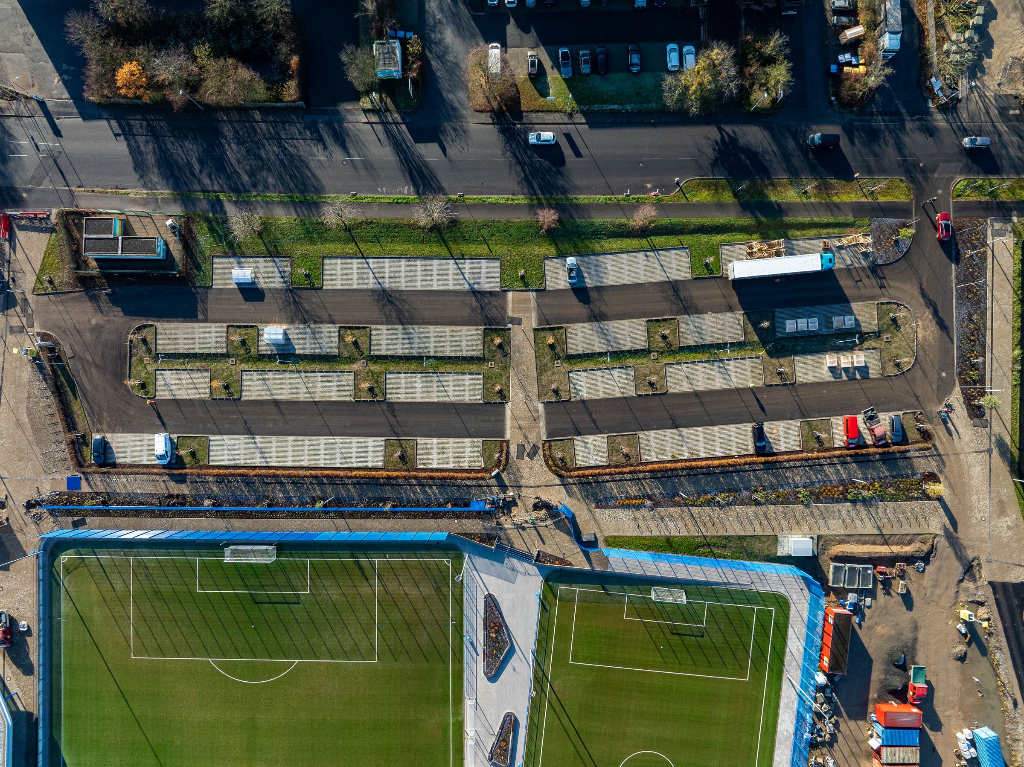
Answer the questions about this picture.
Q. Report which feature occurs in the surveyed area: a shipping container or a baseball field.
shipping container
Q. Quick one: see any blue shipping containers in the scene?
Yes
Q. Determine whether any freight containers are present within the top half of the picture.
No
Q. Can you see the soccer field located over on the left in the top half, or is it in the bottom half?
bottom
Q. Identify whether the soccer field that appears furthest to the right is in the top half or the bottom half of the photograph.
bottom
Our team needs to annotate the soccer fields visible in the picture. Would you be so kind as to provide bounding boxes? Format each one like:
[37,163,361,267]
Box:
[50,541,464,767]
[523,578,789,767]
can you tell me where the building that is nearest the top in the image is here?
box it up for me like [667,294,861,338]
[373,39,402,81]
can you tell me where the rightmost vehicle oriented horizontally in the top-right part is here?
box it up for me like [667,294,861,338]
[961,135,992,149]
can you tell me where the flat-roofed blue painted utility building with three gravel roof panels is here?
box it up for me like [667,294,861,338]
[83,218,166,259]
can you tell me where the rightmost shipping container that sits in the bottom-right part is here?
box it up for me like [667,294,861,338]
[973,726,1007,767]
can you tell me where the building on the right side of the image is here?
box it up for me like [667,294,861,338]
[788,536,812,556]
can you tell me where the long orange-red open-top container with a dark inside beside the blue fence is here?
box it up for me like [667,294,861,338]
[821,608,853,675]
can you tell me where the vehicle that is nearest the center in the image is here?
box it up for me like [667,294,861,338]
[566,257,578,284]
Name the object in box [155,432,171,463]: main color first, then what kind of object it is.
white vehicle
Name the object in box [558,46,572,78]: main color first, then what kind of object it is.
blue car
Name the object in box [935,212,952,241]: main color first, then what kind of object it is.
red car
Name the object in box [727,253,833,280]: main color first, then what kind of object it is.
white truck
